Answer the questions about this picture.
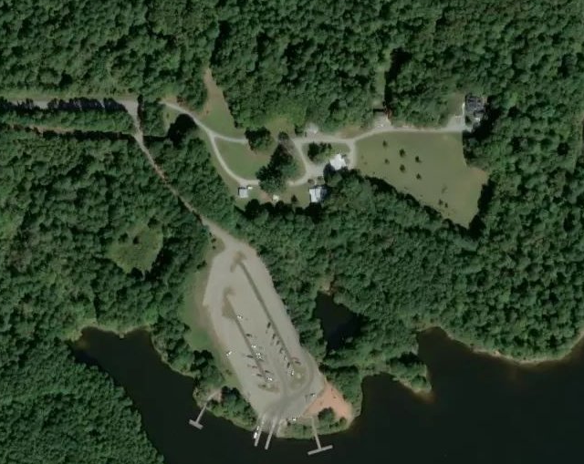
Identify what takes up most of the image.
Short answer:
trees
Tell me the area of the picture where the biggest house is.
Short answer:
top right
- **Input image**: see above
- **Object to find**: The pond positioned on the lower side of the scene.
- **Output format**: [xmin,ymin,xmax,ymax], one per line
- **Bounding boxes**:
[313,292,370,357]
